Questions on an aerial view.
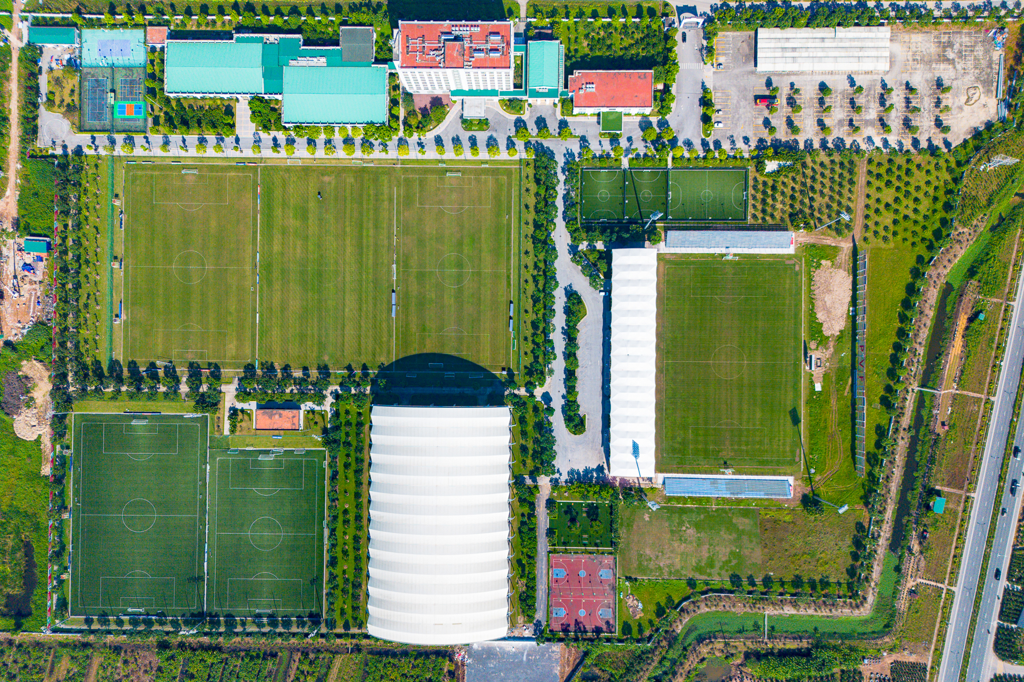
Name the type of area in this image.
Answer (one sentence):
The area seen from above is a sports ground.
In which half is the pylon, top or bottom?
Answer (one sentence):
The top half of the photo is where the pylon is.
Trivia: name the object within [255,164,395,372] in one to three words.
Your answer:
soccer field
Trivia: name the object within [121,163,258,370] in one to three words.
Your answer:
soccer field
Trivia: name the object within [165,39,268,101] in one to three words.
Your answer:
building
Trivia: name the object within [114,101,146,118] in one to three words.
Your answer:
sports court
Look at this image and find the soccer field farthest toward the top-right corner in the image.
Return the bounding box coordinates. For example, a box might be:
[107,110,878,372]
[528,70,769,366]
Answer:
[670,169,746,219]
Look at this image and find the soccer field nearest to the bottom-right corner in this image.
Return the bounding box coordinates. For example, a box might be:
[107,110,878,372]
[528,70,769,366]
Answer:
[657,256,802,469]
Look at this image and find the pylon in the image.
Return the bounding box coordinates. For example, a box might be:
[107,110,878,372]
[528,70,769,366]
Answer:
[984,151,1015,172]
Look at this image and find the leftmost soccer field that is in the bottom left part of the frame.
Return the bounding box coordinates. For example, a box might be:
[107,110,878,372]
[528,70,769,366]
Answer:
[71,413,207,617]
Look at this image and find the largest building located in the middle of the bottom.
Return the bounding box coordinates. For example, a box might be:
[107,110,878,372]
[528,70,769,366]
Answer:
[360,404,517,644]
